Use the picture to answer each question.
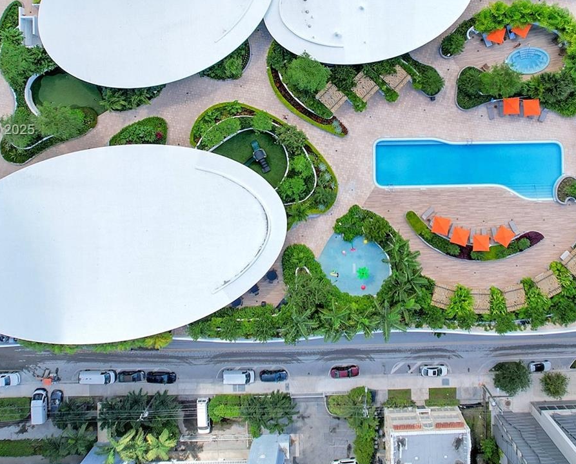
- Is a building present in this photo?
Yes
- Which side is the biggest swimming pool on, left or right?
right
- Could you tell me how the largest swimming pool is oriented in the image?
from left to right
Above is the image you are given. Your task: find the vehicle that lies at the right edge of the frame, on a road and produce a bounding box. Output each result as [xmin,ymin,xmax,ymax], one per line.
[527,359,551,373]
